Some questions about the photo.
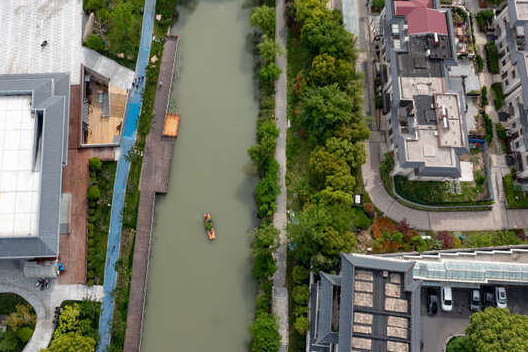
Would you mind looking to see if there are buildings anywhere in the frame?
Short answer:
Yes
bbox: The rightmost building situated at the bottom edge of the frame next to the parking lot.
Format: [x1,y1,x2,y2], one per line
[315,251,422,352]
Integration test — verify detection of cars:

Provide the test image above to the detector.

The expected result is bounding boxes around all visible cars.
[427,289,441,317]
[471,286,485,312]
[496,283,511,310]
[441,284,456,311]
[483,284,498,312]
